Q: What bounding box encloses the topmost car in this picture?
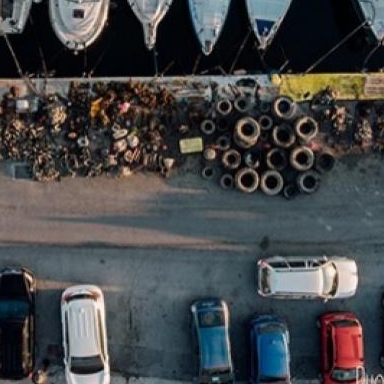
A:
[253,251,357,304]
